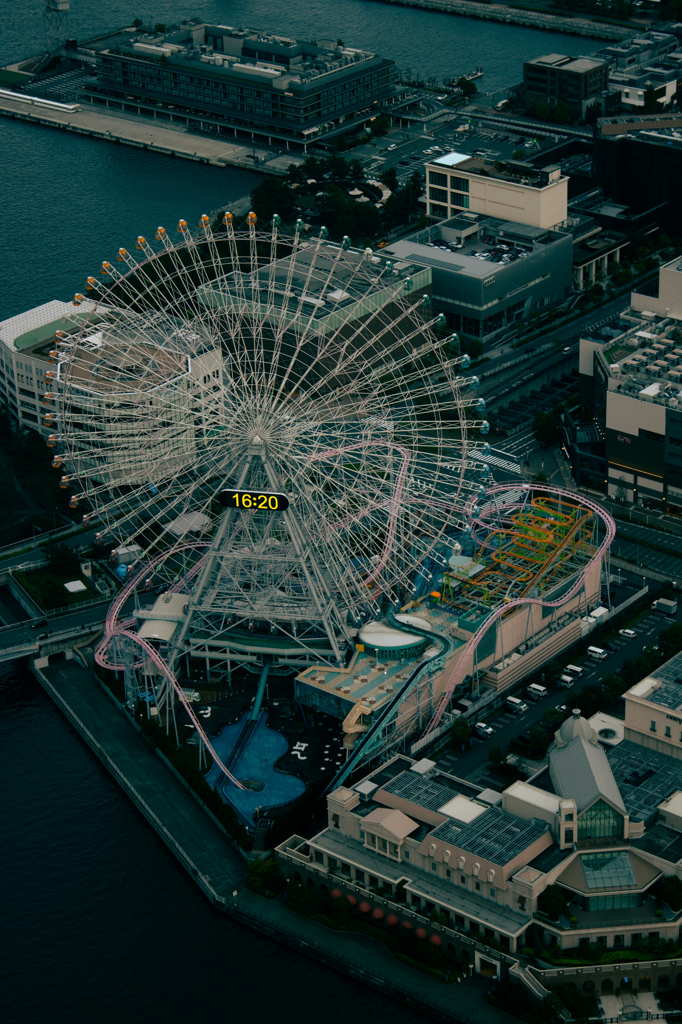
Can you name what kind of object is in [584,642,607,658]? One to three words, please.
vehicle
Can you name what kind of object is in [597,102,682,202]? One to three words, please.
building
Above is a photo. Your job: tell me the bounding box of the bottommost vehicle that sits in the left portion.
[178,684,202,706]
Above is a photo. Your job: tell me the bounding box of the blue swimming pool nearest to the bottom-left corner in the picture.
[205,711,308,822]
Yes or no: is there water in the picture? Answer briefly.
Yes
